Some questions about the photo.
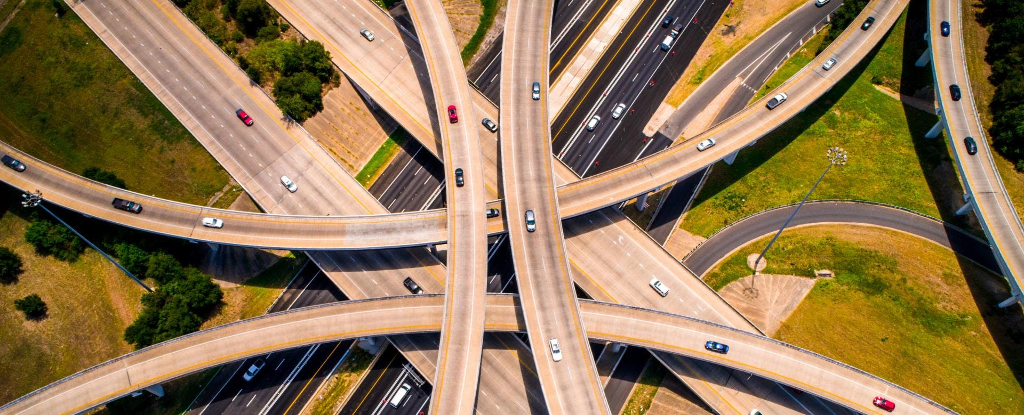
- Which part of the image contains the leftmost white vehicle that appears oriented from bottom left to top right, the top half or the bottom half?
bottom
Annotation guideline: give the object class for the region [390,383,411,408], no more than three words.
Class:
vehicle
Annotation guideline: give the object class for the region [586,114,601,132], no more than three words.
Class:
car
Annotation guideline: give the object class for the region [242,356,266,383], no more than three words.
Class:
truck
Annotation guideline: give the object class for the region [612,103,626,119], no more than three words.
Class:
car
